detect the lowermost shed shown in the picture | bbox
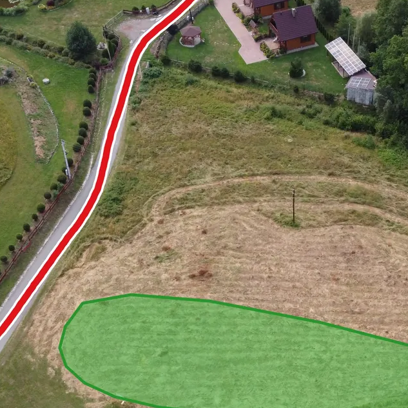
[346,69,382,103]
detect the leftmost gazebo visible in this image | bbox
[176,25,201,46]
